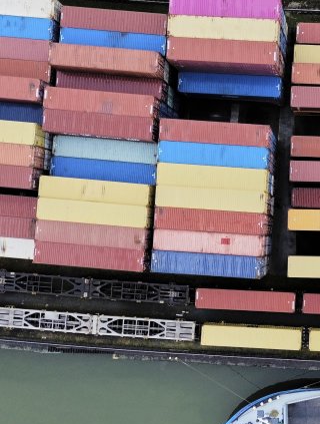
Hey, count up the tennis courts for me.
0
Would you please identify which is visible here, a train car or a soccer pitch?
train car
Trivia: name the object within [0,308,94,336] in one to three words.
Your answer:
rail car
